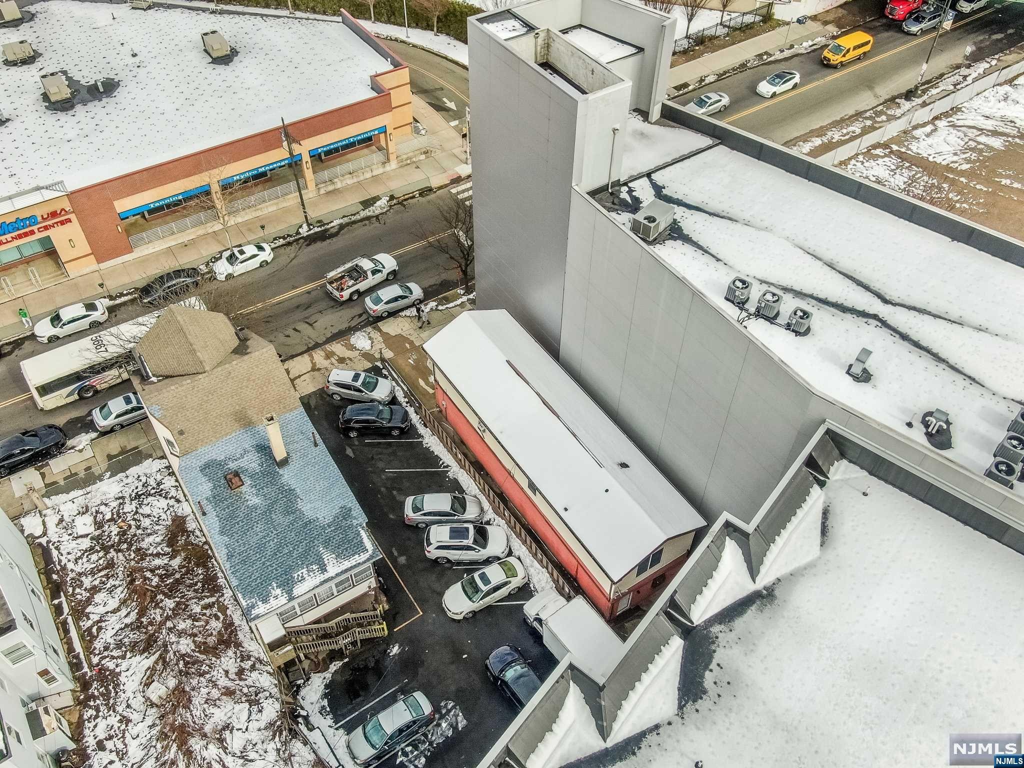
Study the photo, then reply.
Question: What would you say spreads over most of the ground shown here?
buildings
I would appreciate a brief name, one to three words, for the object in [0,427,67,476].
car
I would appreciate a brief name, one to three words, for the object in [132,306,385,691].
house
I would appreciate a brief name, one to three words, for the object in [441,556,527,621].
car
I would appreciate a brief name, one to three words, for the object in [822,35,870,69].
van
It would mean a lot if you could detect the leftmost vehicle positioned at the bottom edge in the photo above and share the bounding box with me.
[339,688,437,768]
